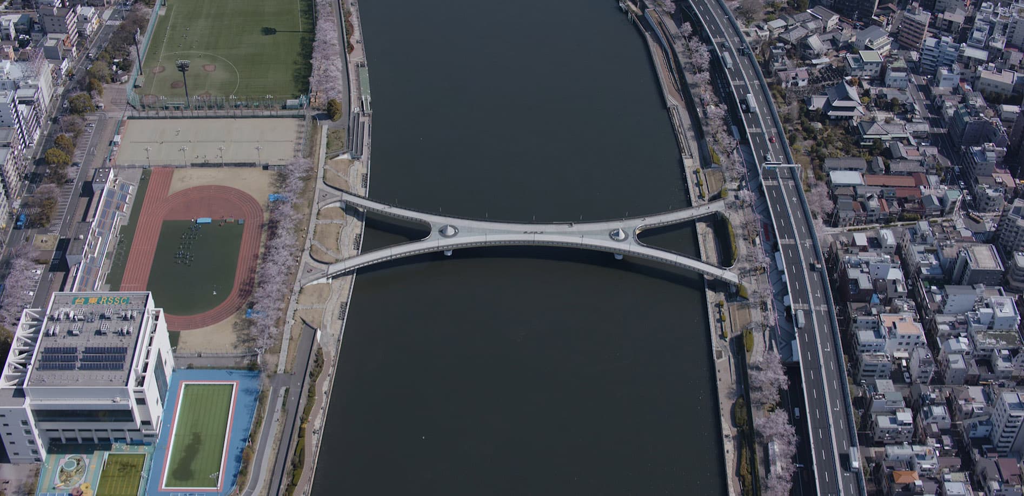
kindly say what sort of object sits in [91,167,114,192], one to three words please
building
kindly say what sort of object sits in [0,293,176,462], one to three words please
building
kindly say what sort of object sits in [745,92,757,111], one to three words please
vehicle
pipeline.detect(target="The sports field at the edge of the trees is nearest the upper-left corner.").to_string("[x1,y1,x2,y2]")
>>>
[130,0,315,104]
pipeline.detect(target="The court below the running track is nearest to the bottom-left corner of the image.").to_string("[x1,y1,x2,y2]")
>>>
[95,452,148,496]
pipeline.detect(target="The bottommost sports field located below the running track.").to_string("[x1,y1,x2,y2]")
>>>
[165,384,234,487]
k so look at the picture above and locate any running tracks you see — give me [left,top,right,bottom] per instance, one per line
[119,168,264,331]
